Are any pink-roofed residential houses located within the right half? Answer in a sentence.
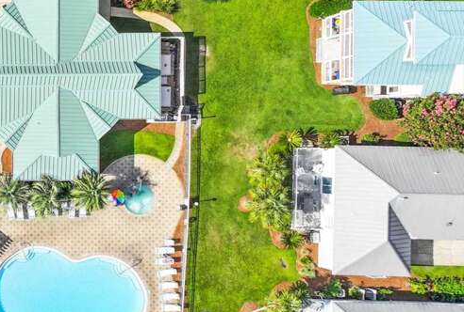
No, I see no pink-roofed residential house within the right half.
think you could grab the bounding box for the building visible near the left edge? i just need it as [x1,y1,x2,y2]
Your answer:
[0,0,161,182]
